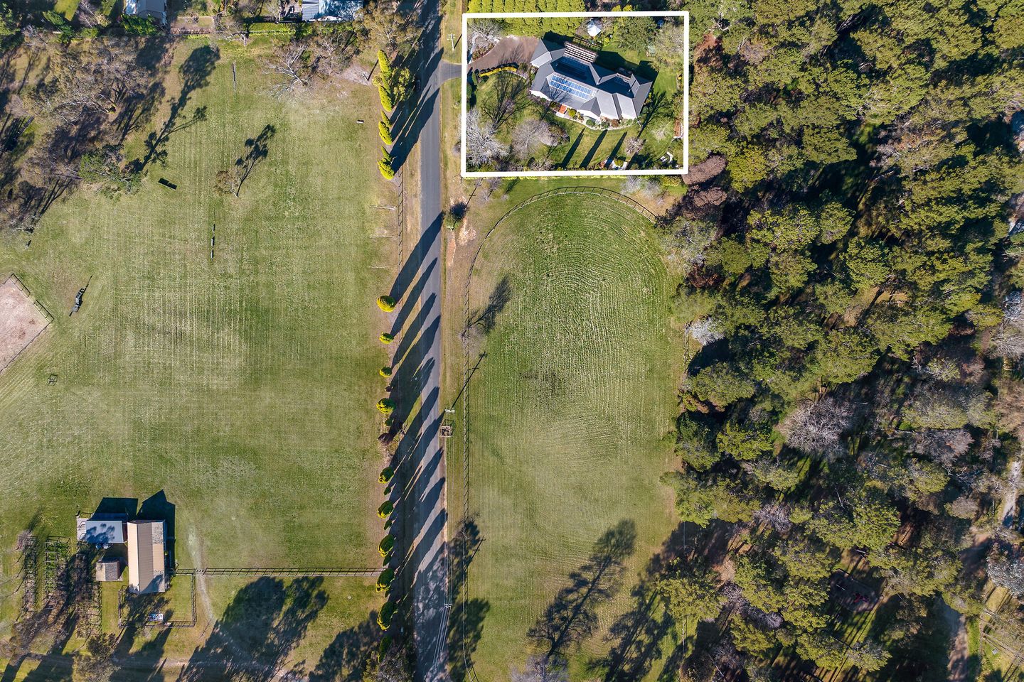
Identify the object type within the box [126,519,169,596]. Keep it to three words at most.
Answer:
barn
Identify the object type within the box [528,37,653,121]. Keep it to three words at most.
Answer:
house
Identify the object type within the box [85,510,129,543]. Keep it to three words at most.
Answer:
shed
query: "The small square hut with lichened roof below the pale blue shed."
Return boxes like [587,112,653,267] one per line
[95,561,124,582]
